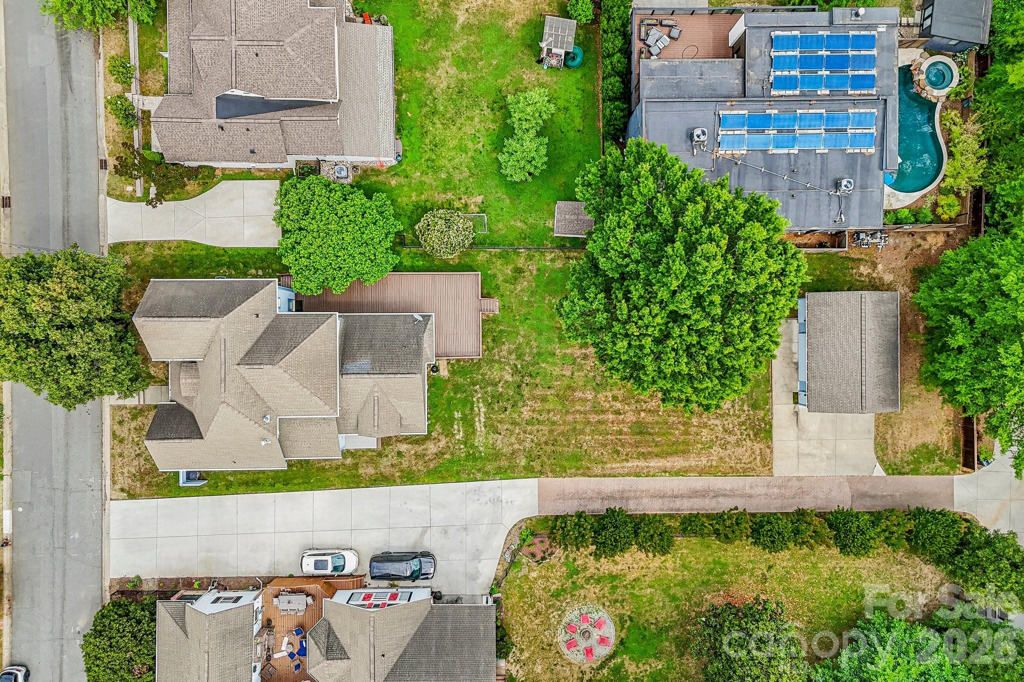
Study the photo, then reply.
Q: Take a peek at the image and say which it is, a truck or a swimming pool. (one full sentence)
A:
Of the two, only a swimming pool appears.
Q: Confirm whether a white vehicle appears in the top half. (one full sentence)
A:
No, there's no white vehicle to be seen in the top half.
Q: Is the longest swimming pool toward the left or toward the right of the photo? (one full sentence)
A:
The longest swimming pool sits on the right side.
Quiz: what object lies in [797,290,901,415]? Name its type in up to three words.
building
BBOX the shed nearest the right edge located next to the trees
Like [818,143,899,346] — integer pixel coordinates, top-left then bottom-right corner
[906,0,990,59]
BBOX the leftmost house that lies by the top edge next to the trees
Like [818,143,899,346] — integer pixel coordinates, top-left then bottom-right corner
[151,0,399,169]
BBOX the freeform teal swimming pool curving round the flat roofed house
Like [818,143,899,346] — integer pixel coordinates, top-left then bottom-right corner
[885,65,949,197]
